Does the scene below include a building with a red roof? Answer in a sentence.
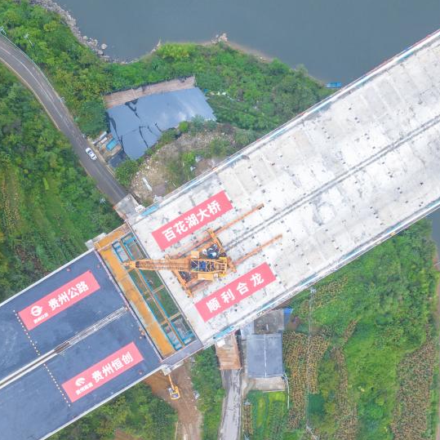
No, there appears to be no building with a red roof in this shot.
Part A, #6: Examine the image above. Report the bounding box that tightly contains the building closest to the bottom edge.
[246,333,282,377]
